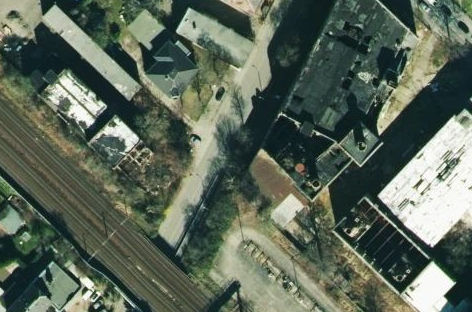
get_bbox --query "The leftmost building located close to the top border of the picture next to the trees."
[42,4,140,101]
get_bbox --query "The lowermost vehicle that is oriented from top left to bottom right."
[77,275,96,289]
